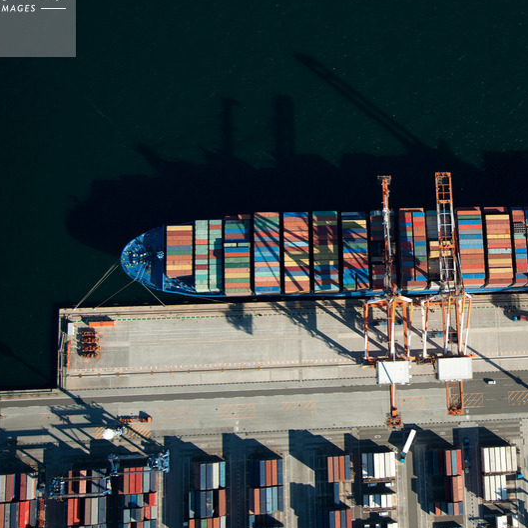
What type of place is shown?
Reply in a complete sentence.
It's a port.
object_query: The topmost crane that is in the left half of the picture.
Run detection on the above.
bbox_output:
[109,447,180,476]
